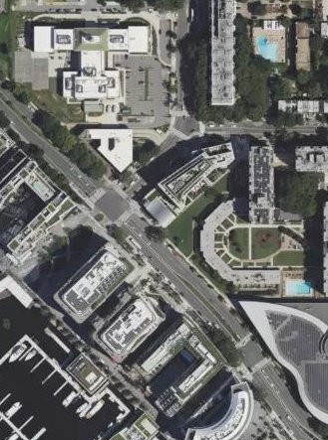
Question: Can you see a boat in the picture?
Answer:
Yes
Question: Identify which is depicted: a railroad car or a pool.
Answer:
pool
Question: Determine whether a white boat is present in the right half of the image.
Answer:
No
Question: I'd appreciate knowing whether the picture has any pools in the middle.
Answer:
No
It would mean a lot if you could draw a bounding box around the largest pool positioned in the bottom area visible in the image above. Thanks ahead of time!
[281,272,314,297]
